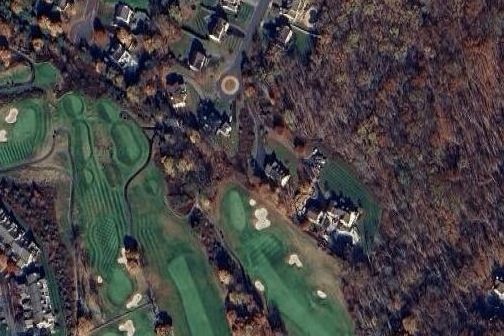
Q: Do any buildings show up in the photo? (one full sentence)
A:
Yes, there's a building here.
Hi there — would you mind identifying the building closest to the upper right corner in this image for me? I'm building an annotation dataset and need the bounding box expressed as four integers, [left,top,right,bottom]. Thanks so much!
[286,1,313,24]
